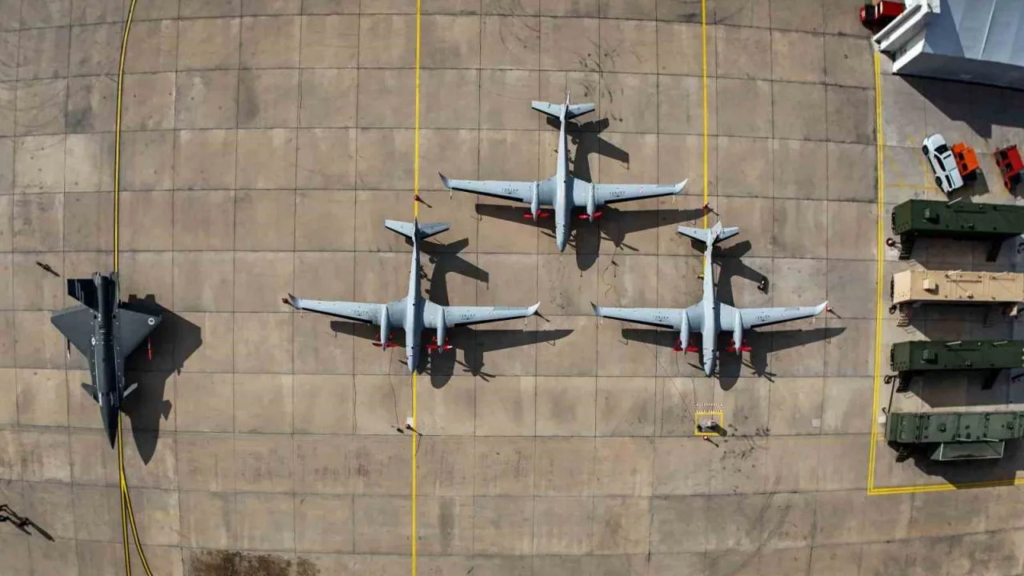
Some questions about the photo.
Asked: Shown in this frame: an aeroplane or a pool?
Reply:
aeroplane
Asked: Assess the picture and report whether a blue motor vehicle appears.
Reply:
No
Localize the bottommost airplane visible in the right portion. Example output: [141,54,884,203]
[593,217,833,375]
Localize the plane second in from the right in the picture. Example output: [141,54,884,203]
[439,87,691,251]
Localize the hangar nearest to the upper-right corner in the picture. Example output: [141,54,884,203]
[880,0,1024,91]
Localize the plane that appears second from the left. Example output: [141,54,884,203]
[289,214,540,371]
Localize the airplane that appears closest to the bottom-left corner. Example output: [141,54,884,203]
[50,269,161,449]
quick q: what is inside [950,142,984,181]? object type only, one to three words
work vehicle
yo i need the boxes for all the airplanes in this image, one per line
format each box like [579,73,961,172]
[593,217,833,375]
[289,214,540,371]
[439,87,691,251]
[50,269,161,449]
